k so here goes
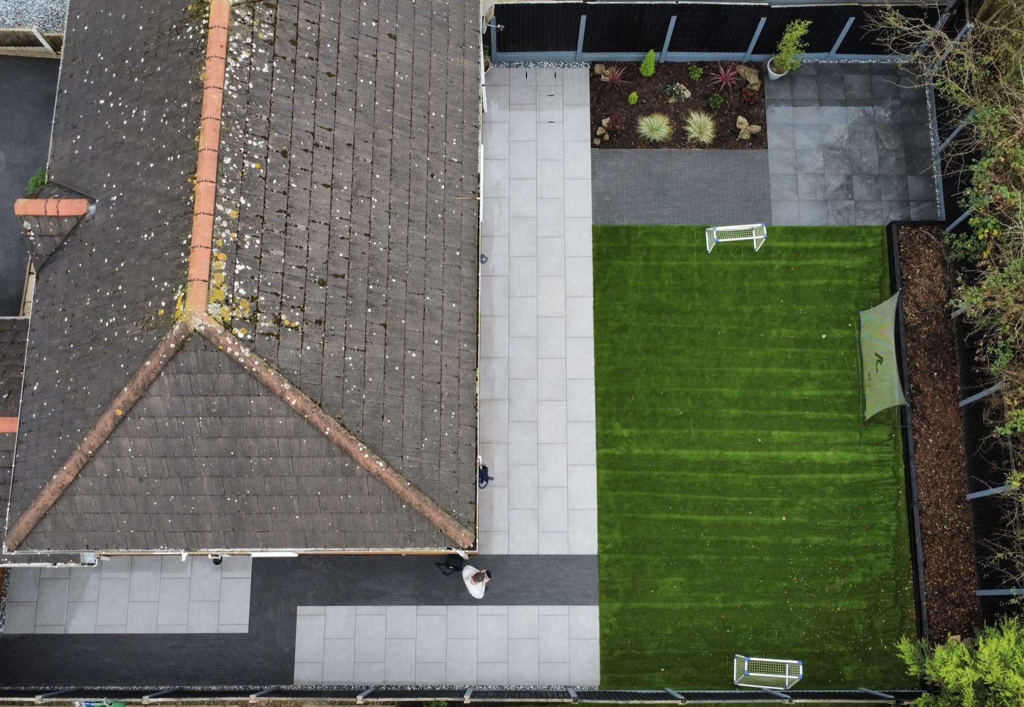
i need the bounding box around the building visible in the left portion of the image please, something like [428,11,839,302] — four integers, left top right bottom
[0,0,489,565]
